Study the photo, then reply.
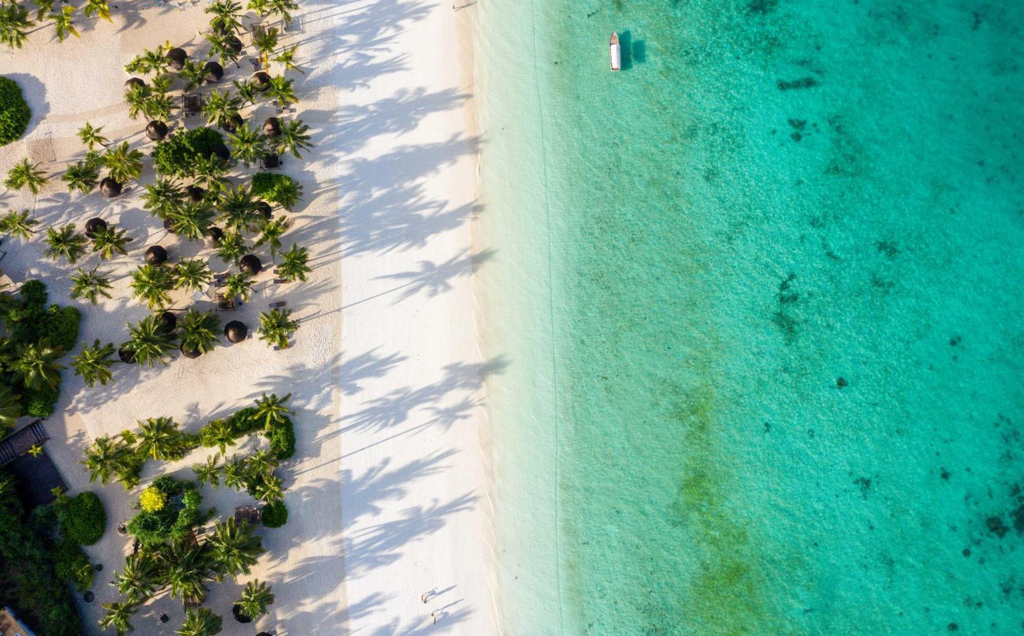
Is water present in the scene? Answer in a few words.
Yes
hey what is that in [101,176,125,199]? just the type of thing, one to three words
umbrella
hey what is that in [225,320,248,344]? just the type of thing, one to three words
umbrella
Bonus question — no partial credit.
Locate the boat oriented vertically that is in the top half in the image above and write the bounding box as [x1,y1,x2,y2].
[609,32,621,72]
